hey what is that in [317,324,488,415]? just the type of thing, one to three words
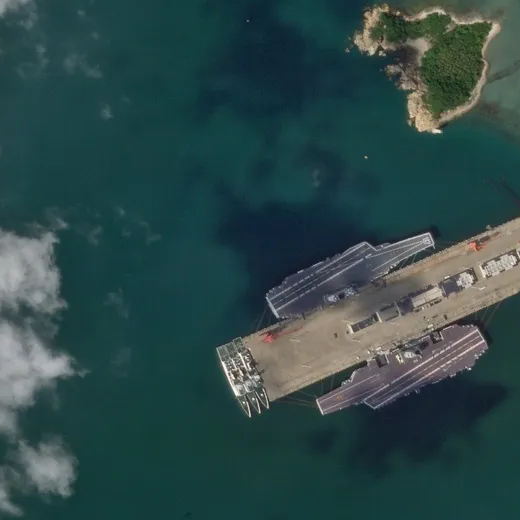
ship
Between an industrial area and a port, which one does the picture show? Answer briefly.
port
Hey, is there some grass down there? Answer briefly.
No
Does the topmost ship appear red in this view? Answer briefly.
No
